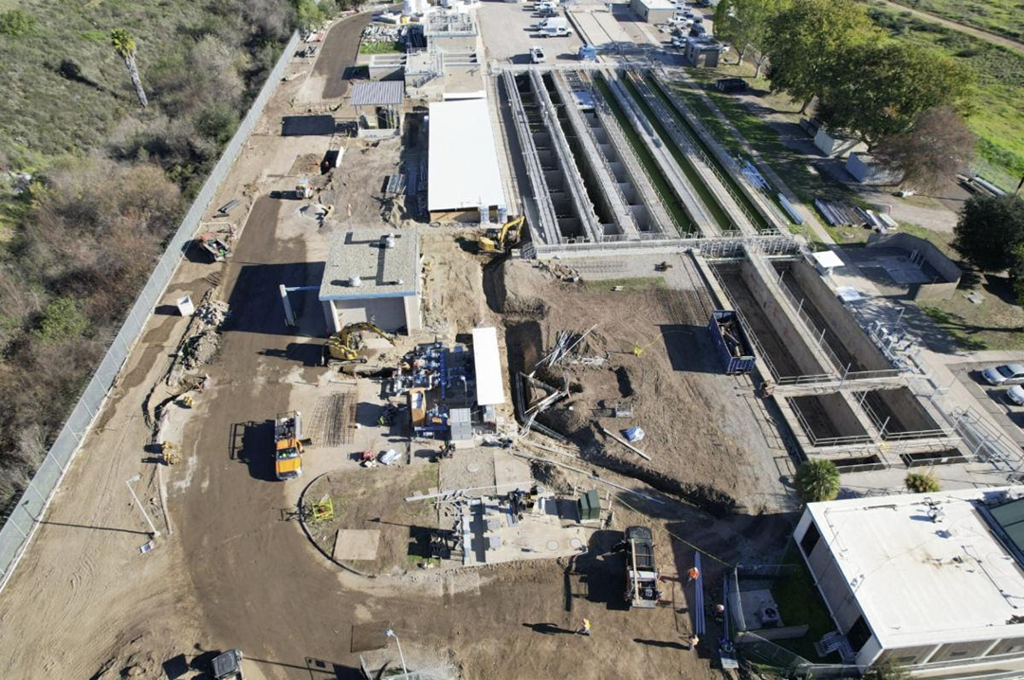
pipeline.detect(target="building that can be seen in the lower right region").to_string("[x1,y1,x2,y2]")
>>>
[794,485,1024,680]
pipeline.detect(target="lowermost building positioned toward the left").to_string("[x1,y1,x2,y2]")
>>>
[320,227,422,341]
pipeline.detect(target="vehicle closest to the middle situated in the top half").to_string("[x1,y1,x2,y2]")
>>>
[470,211,519,254]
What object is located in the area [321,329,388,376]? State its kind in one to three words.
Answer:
work vehicle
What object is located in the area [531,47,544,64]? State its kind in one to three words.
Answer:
vehicle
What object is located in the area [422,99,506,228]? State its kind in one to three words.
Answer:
building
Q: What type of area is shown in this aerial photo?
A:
industrial area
